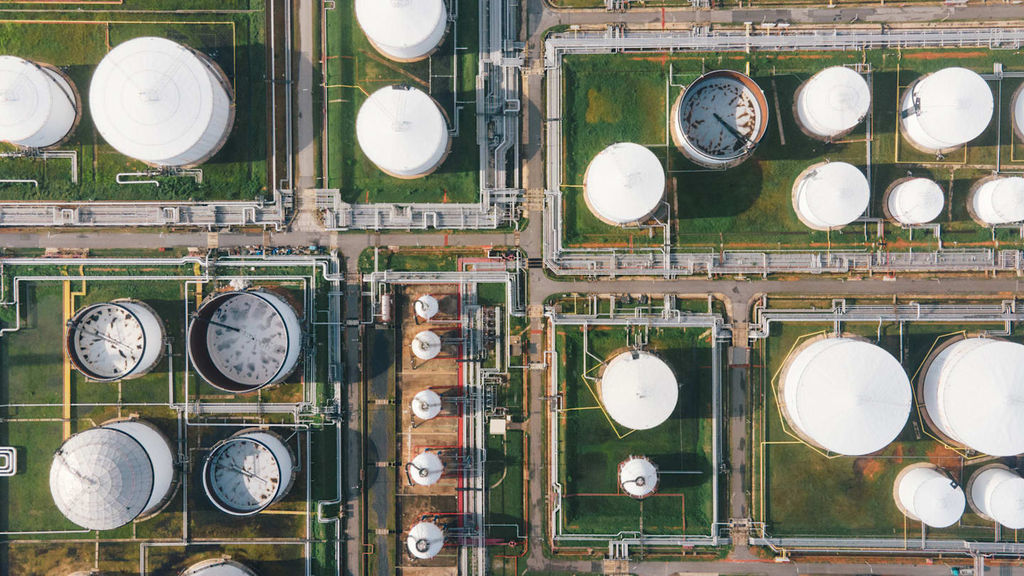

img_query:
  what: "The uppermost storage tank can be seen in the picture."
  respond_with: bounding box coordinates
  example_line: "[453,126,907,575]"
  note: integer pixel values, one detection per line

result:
[354,0,451,62]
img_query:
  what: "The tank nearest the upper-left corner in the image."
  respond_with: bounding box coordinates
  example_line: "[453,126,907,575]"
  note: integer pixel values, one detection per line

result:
[0,54,81,155]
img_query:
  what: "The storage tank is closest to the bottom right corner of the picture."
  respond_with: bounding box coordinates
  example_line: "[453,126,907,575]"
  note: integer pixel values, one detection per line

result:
[965,464,1024,530]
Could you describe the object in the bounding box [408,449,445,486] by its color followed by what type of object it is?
white storage tank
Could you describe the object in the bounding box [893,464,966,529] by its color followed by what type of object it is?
white storage tank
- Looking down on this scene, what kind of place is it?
industrial area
